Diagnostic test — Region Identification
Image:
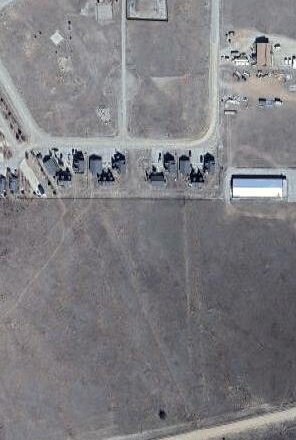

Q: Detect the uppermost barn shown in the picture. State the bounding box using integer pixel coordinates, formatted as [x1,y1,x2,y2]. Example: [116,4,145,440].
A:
[257,42,274,66]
